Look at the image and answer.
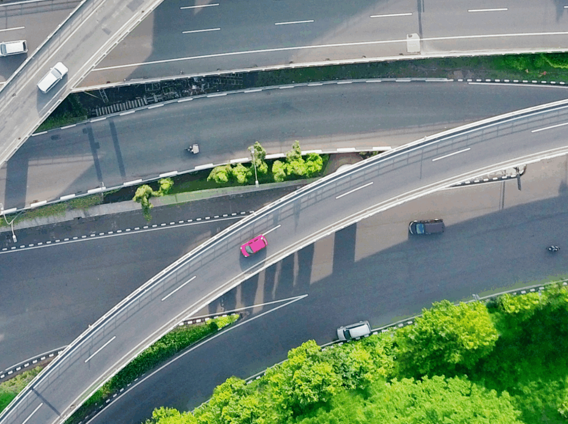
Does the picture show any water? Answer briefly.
No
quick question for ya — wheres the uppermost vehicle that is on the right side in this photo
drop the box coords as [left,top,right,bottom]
[408,219,445,235]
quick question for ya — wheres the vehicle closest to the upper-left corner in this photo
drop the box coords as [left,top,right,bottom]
[0,38,29,56]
